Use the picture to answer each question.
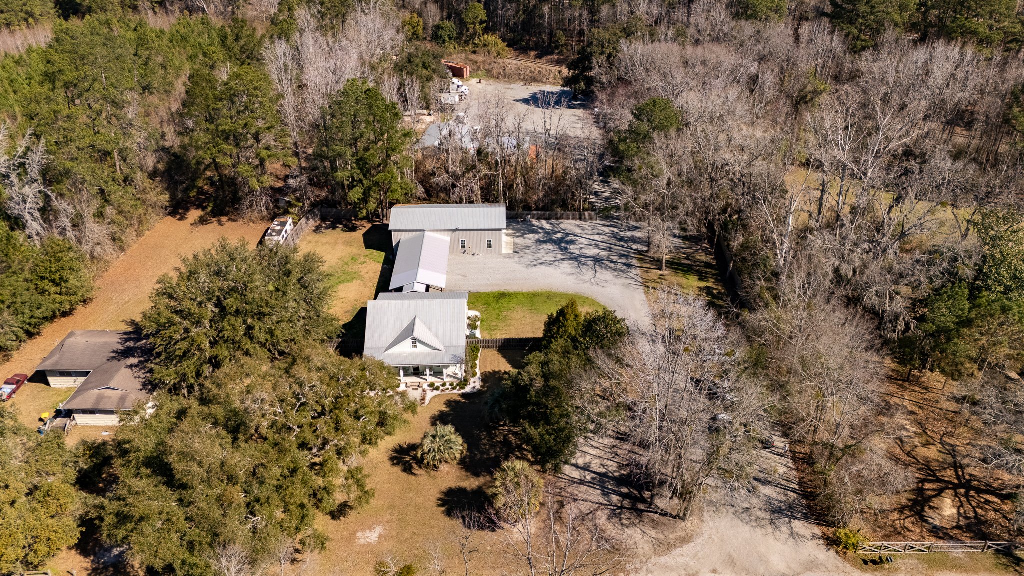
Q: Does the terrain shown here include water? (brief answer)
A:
No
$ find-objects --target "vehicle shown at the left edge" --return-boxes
[0,371,31,403]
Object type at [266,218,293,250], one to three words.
vehicle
